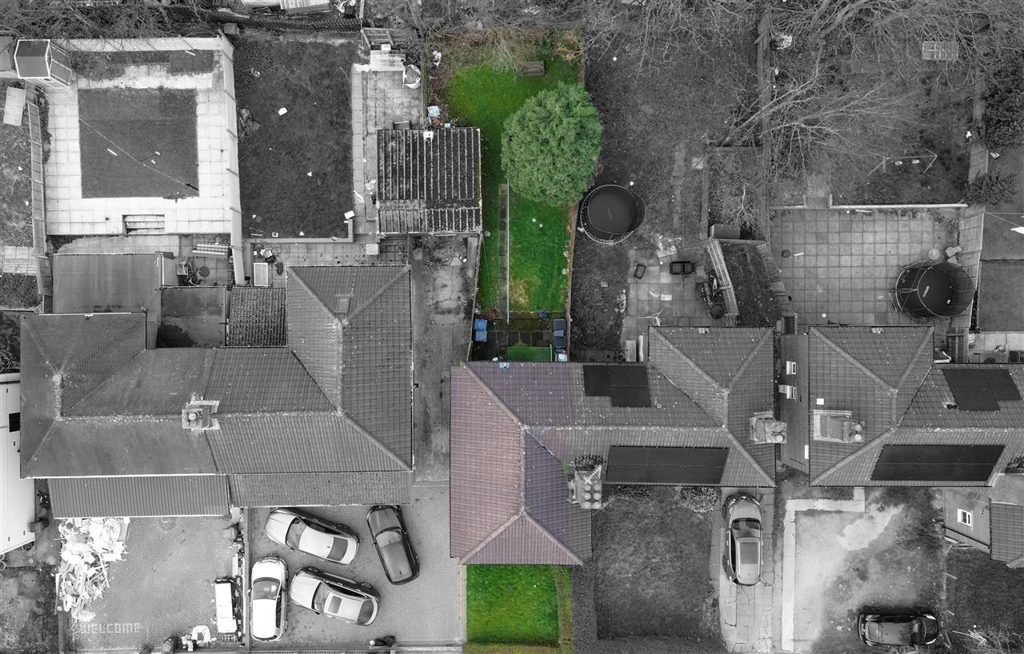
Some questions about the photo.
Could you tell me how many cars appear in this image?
6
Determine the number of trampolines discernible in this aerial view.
two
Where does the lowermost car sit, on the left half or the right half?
right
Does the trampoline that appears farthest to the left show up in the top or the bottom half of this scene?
top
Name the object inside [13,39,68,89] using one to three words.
shed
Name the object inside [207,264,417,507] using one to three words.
house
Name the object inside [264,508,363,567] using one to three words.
car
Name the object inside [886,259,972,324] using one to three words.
trampoline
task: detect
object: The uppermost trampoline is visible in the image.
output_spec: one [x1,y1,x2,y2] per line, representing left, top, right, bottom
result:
[575,180,642,245]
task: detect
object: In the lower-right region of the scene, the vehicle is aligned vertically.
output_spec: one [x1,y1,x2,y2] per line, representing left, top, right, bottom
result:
[721,492,768,588]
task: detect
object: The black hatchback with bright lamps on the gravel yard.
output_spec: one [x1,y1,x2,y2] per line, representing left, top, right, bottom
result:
[855,606,936,652]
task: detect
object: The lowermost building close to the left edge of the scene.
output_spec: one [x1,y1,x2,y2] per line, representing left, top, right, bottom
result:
[19,254,233,518]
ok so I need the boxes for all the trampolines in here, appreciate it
[886,259,972,324]
[575,180,642,245]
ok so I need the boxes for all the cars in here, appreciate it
[721,492,768,588]
[855,606,936,652]
[370,505,423,586]
[245,555,292,643]
[264,508,363,567]
[289,570,386,630]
